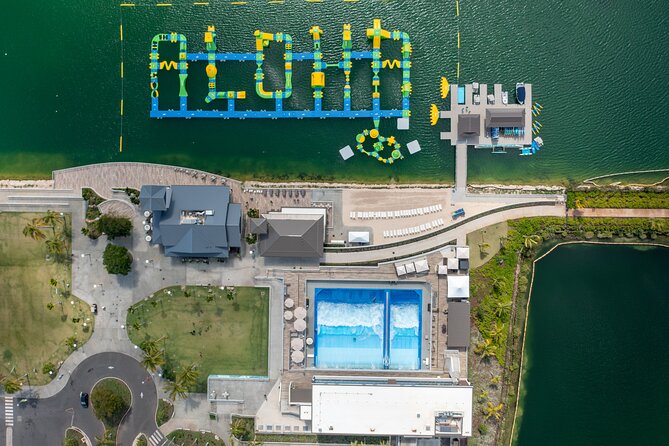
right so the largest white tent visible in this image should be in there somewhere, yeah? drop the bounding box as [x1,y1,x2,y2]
[446,275,469,297]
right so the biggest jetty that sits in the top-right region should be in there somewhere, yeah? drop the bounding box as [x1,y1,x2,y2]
[438,82,535,153]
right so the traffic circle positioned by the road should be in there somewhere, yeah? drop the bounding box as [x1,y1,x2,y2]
[63,353,157,446]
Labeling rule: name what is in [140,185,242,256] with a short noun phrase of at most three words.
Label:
building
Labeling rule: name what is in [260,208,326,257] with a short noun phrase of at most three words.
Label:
building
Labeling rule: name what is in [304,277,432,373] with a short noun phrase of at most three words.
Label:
swimming pool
